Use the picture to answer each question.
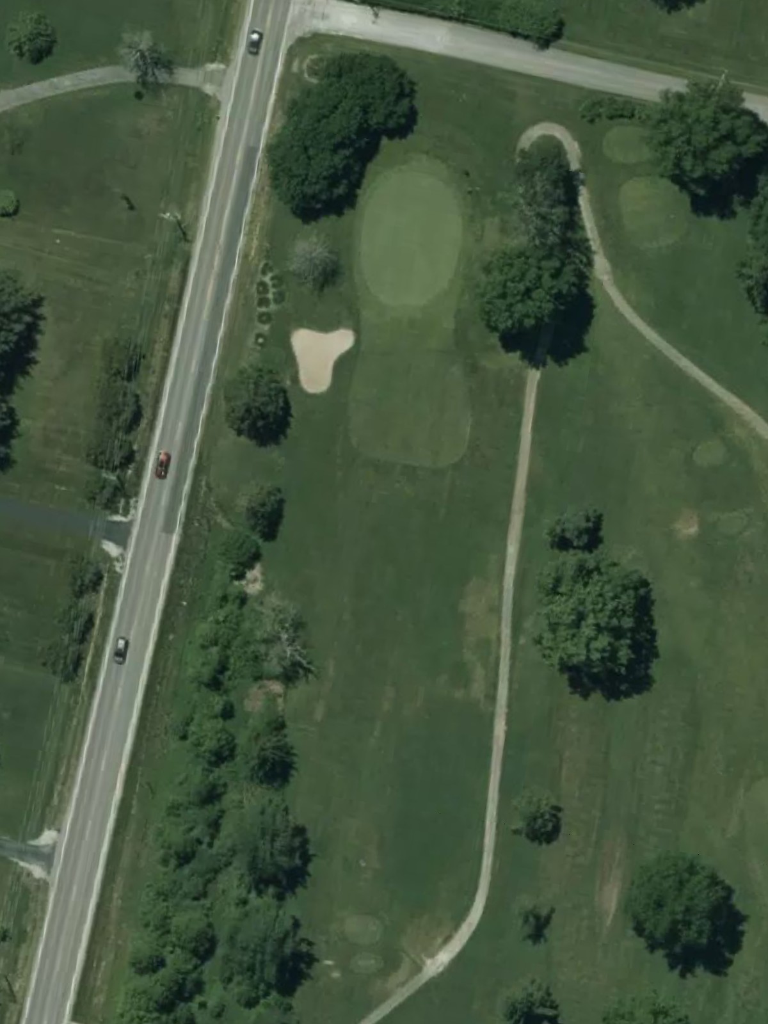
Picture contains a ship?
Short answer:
No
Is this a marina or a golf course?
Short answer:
golf course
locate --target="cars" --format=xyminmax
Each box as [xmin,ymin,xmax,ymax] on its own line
[156,453,170,479]
[113,638,127,664]
[248,28,261,55]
